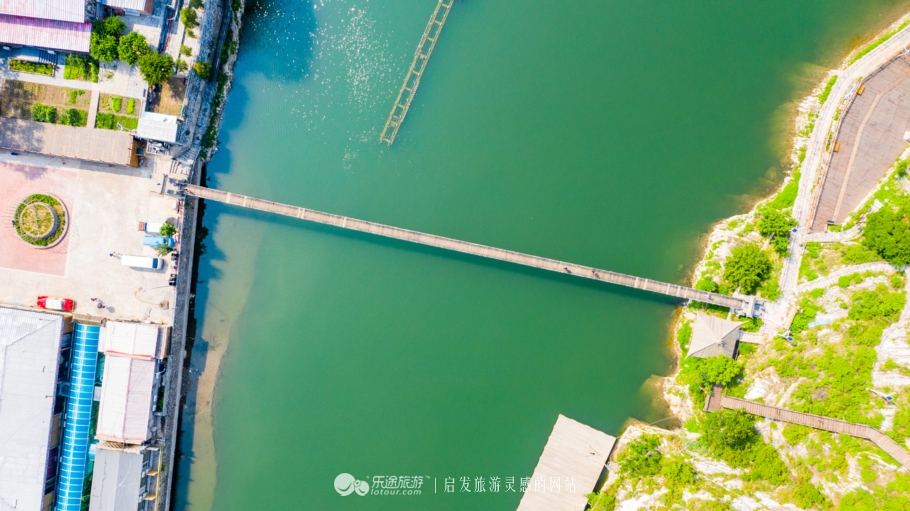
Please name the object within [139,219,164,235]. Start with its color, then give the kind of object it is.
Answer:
white vehicle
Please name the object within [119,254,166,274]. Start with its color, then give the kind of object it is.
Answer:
white vehicle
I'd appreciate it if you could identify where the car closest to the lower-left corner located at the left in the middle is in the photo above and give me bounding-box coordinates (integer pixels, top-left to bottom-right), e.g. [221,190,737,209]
[36,295,75,313]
